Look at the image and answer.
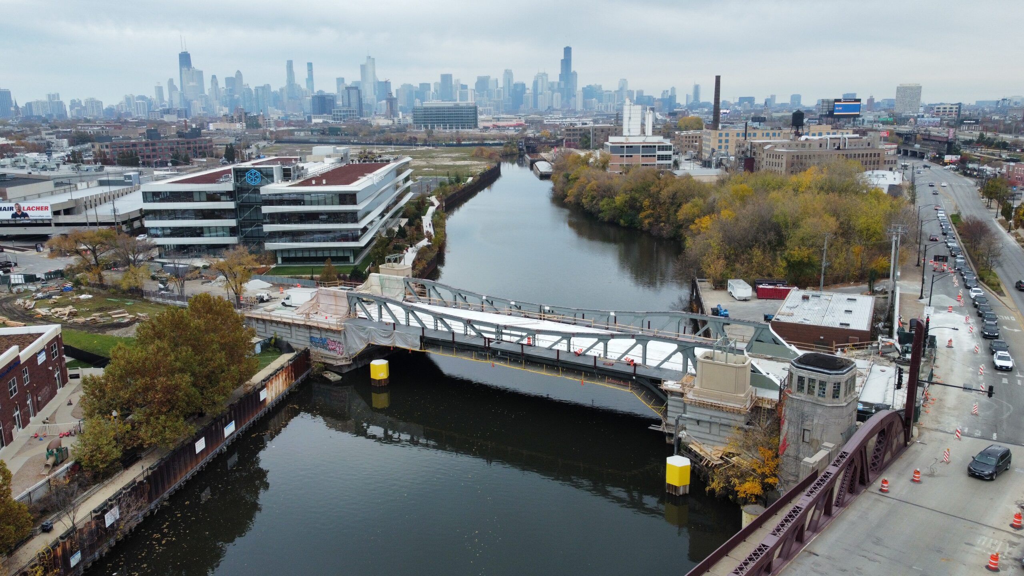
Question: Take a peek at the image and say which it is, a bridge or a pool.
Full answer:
Looking from above, you can make out a bridge.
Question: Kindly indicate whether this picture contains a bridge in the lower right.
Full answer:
Yes, a bridge is visible in the lower right.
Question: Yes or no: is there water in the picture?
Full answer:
Yes, the picture does contain water.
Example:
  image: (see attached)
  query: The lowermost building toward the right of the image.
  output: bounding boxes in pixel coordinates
[782,344,878,498]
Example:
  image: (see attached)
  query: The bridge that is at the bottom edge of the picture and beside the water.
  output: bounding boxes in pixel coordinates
[688,414,1024,576]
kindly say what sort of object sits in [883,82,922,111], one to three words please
building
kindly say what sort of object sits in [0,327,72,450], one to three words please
building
